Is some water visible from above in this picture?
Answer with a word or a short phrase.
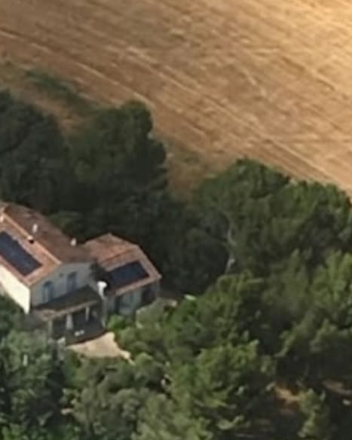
No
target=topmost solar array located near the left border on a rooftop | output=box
[0,229,41,274]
